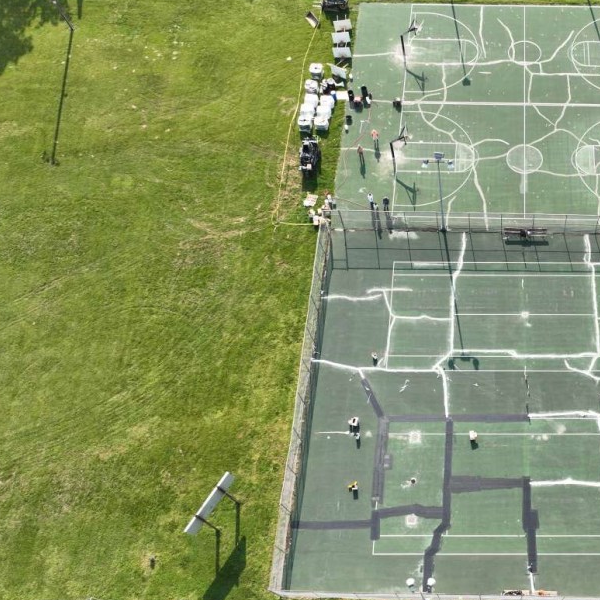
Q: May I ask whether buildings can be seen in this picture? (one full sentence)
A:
No, there appears to be no building in this shot.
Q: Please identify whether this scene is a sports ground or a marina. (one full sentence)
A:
The area seen from above is a sports ground.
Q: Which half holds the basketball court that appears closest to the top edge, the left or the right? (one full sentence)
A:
It is on the right.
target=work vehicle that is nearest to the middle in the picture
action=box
[295,142,319,171]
